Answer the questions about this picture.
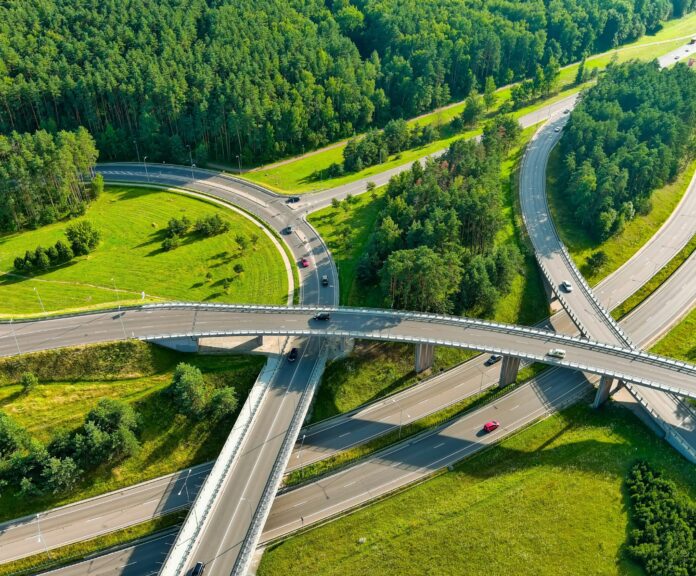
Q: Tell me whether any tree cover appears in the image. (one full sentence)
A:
Yes, tree cover can be seen from above here.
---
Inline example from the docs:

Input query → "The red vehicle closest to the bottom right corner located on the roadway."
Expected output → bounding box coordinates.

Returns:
[481,421,499,433]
